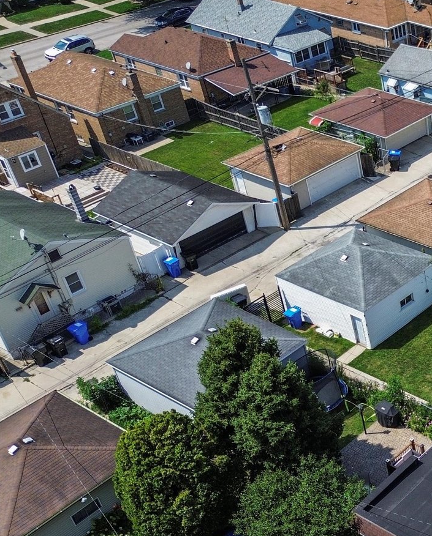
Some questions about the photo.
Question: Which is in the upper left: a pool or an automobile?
automobile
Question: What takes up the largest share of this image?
buildings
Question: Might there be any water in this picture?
No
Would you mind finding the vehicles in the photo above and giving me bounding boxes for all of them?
[46,33,100,62]
[157,0,198,26]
